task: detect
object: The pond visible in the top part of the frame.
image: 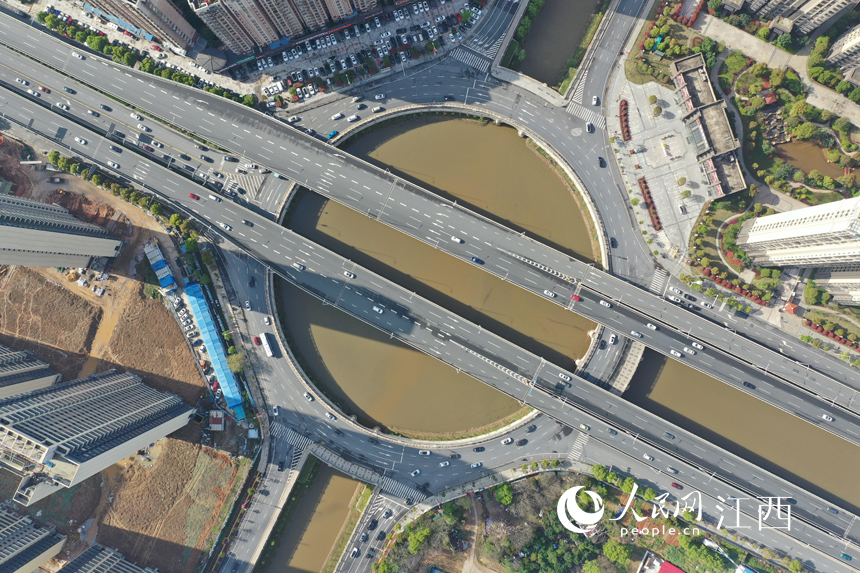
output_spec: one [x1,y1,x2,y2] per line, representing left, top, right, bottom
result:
[773,139,860,179]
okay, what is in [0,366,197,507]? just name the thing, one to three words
building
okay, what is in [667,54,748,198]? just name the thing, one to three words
building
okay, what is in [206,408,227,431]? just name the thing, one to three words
shed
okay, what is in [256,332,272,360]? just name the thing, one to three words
vehicle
